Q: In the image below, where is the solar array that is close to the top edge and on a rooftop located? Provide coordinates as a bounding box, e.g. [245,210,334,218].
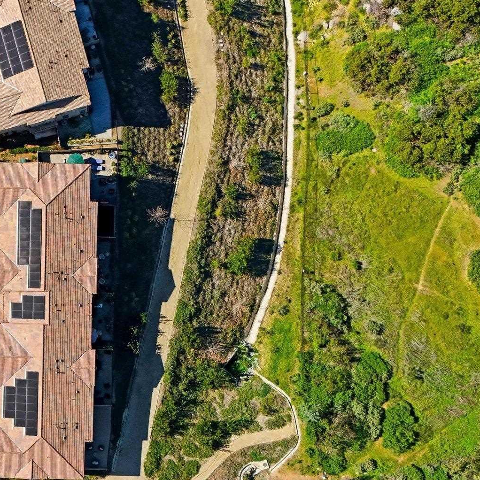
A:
[0,23,34,78]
